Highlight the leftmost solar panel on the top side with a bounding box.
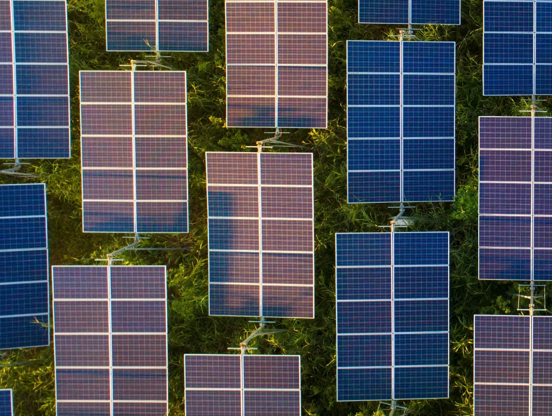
[0,0,70,165]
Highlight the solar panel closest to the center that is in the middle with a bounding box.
[206,141,314,324]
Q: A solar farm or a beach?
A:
solar farm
